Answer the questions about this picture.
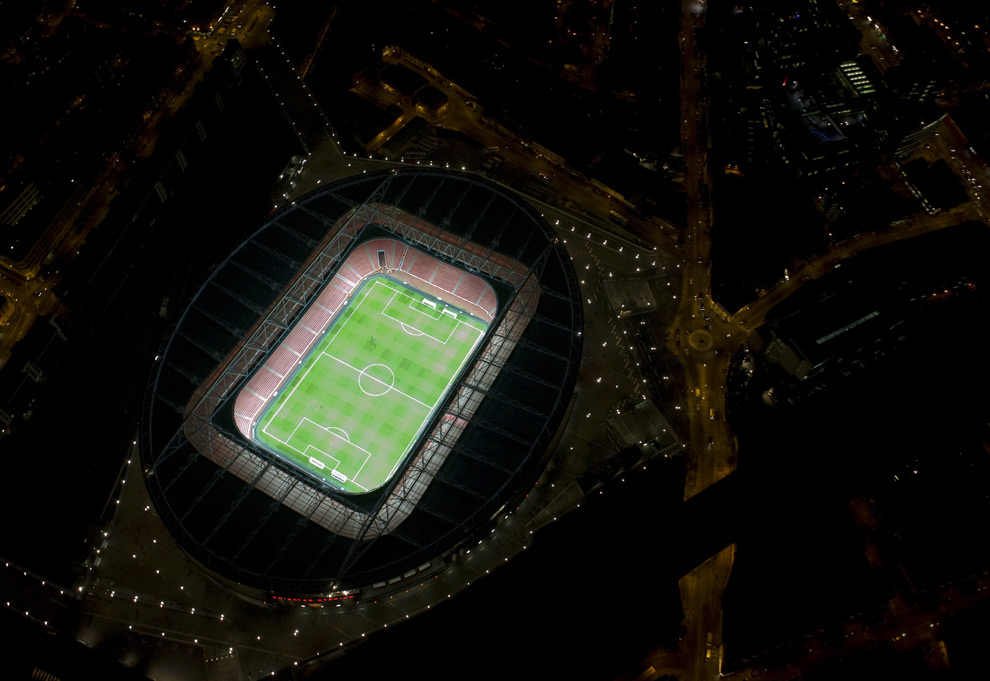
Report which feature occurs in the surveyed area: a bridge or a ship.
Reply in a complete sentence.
The one in the frame is a bridge.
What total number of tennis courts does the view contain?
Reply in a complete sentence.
The count of tennis courts is 0.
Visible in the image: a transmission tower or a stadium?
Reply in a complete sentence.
There is a stadium in the scene.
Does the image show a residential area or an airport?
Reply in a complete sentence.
The area seen from above is a residential area.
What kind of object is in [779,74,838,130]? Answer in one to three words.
building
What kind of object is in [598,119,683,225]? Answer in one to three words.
building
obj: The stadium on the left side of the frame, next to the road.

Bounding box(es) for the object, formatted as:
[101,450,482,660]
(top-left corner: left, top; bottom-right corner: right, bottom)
[139,166,584,616]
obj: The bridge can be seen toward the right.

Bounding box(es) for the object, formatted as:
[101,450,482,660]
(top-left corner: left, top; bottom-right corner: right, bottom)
[680,468,737,579]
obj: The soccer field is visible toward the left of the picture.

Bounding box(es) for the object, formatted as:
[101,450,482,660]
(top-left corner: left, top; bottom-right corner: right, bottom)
[248,269,494,505]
